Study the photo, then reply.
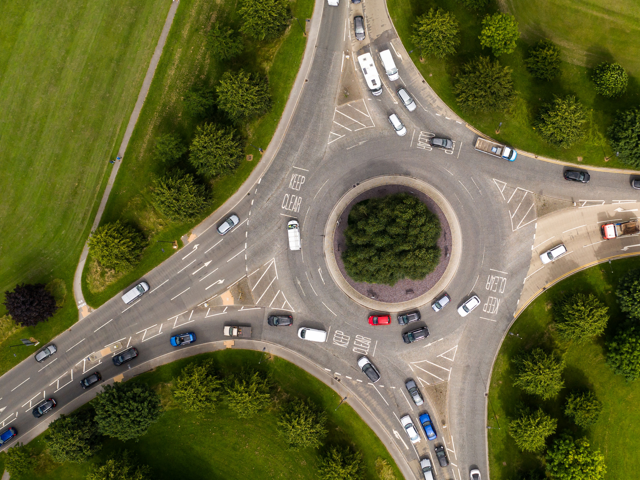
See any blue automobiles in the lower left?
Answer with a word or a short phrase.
Yes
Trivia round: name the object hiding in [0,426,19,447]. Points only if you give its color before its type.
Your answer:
blue car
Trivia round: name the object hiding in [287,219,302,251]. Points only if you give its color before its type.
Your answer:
white vehicle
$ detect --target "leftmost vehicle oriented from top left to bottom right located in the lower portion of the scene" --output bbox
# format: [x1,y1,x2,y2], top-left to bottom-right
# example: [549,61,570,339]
[357,355,382,385]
